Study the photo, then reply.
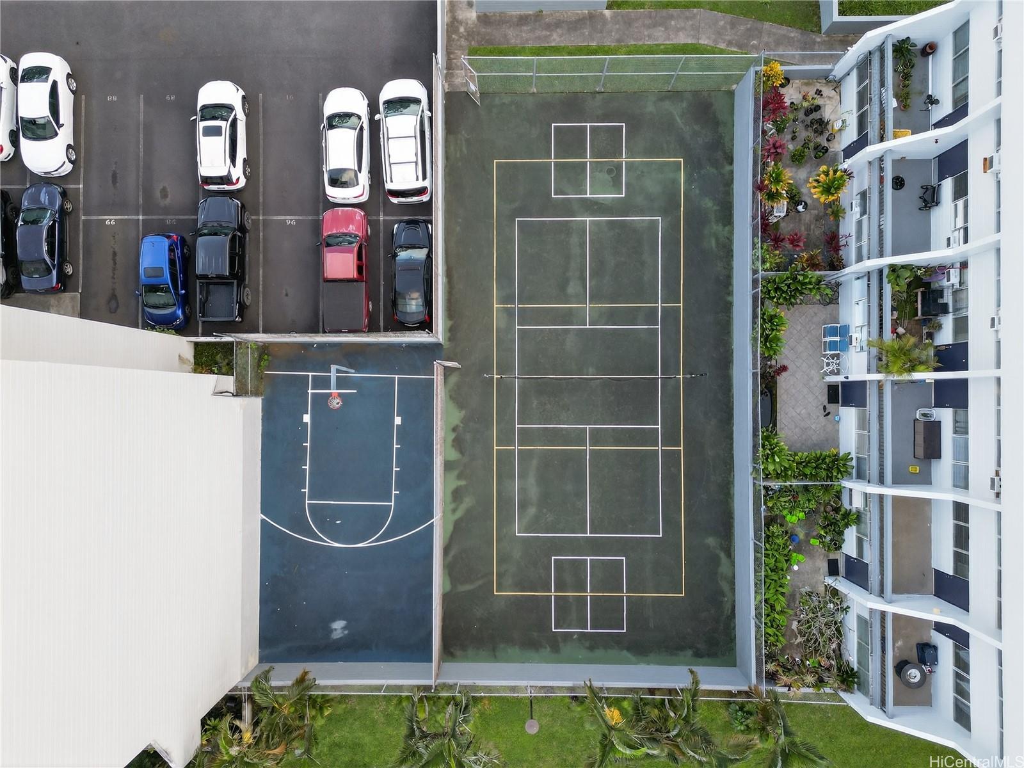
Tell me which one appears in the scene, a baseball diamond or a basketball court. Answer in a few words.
basketball court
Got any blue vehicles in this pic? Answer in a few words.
Yes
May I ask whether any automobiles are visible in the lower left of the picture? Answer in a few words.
No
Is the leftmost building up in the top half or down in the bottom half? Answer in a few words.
bottom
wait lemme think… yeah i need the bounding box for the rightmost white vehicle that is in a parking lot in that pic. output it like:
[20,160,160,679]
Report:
[375,79,430,205]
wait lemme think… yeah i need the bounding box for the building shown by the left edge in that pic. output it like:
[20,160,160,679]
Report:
[0,309,259,768]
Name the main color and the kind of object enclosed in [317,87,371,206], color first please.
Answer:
white car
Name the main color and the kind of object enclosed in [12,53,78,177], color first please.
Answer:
white car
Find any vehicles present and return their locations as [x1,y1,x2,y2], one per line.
[0,55,21,165]
[12,53,78,177]
[0,192,21,302]
[190,81,250,193]
[315,208,372,332]
[375,79,430,205]
[12,183,74,295]
[383,219,434,328]
[317,87,371,206]
[189,197,253,322]
[135,233,192,332]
